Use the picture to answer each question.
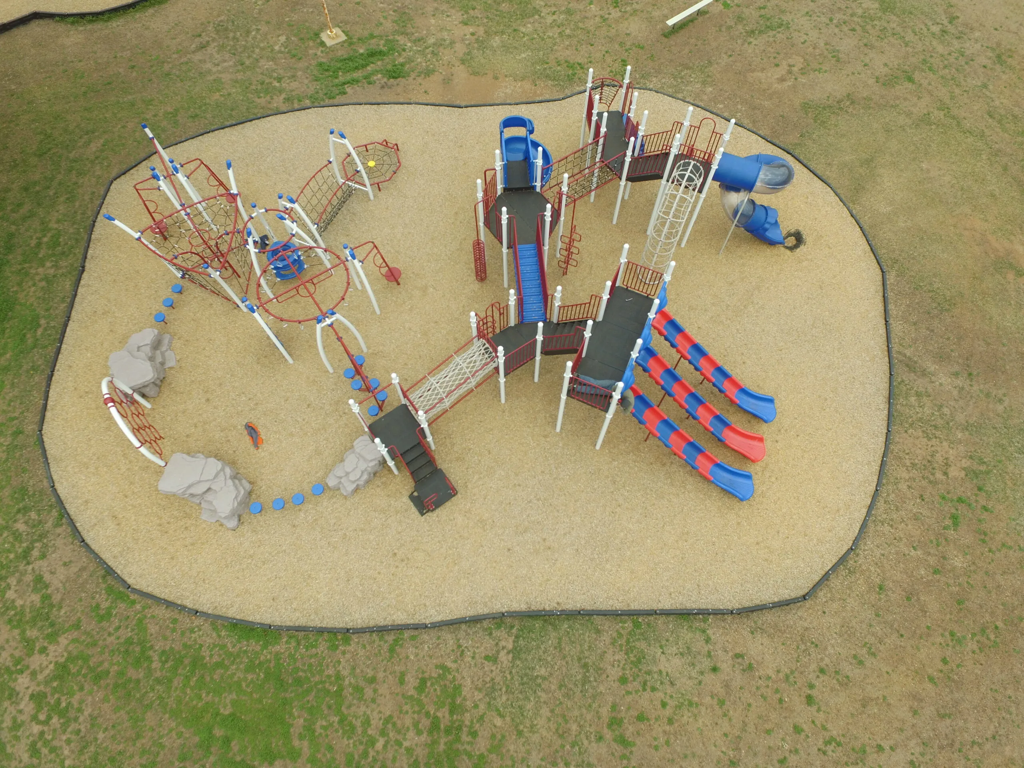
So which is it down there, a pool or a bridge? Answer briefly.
bridge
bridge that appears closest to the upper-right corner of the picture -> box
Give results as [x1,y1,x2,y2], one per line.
[539,135,626,213]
